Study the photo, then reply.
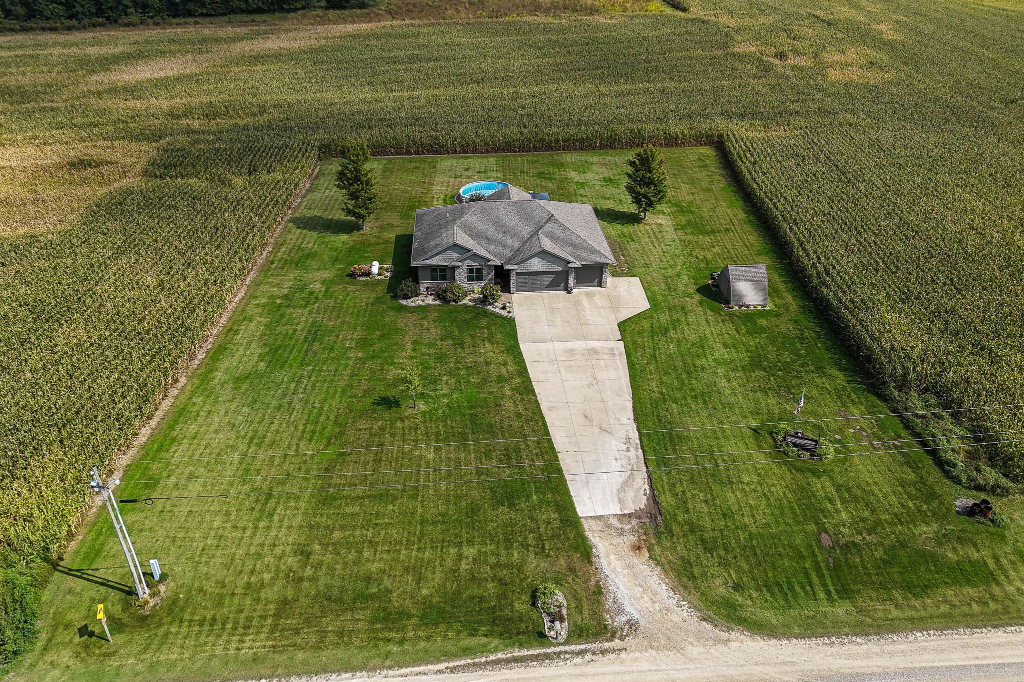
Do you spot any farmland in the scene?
Yes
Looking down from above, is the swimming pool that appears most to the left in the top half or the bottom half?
top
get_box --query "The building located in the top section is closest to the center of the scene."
[410,185,617,294]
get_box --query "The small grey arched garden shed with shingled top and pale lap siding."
[718,264,768,305]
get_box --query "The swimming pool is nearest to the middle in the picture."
[458,181,508,203]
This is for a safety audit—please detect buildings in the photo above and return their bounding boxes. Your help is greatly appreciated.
[410,185,617,294]
[718,264,768,305]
